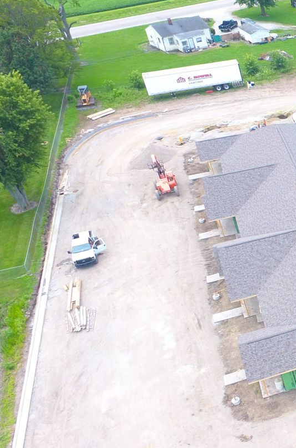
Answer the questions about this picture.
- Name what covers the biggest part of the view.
paved ground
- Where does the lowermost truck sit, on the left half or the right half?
left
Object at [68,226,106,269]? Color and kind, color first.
white truck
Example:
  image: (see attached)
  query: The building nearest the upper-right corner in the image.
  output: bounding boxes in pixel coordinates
[236,16,270,44]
